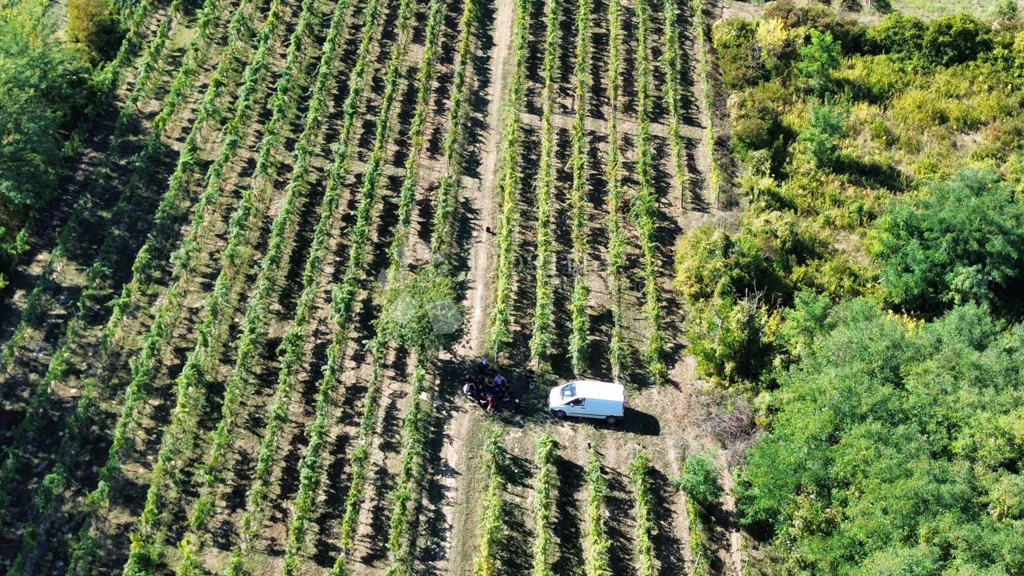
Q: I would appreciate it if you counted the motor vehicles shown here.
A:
one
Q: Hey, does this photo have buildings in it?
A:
No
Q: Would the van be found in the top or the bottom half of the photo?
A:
bottom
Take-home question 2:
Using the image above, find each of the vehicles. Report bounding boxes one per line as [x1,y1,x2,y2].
[547,382,627,425]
